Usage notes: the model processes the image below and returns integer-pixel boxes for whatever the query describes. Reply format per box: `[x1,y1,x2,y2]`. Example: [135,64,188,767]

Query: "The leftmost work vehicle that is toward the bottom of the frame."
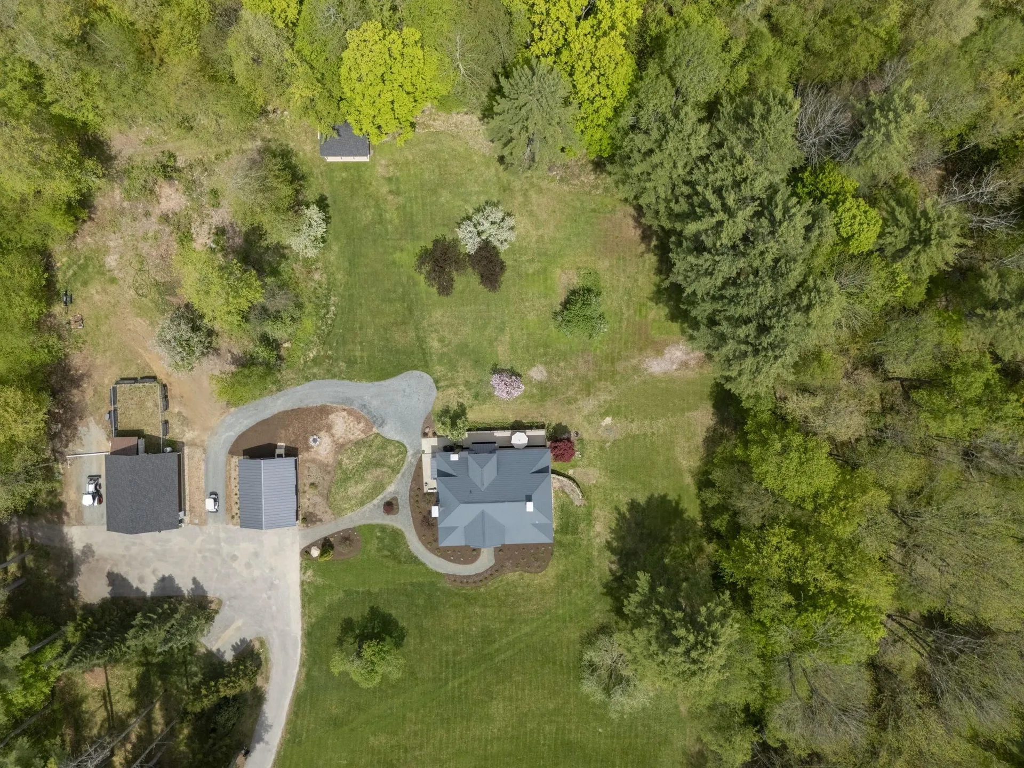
[81,473,103,505]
